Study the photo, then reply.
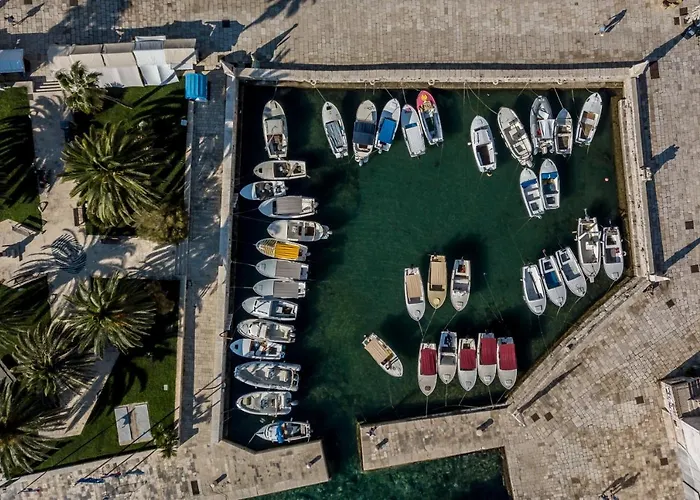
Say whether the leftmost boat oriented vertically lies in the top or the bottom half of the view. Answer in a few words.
top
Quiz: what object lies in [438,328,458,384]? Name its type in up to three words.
boat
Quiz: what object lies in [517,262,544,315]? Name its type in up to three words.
boat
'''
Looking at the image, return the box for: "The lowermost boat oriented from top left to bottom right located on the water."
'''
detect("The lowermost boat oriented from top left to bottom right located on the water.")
[363,332,402,376]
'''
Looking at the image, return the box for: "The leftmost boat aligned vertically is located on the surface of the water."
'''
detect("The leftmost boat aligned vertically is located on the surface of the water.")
[262,100,289,161]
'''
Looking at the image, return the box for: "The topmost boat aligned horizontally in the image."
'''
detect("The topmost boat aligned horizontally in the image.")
[254,159,308,181]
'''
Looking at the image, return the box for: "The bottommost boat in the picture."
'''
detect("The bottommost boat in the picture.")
[256,417,314,445]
